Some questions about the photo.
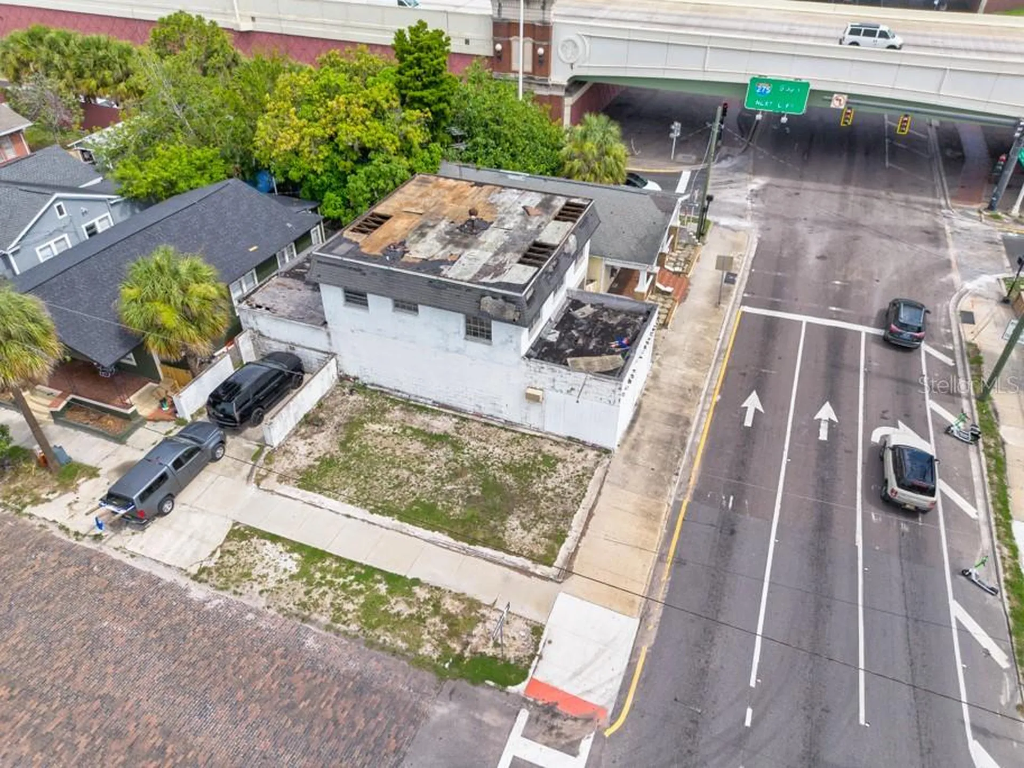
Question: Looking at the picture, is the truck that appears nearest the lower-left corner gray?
Yes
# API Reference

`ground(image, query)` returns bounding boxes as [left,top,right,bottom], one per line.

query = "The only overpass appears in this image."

[0,0,1024,126]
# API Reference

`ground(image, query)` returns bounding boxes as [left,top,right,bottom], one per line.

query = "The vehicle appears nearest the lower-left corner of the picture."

[100,423,231,527]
